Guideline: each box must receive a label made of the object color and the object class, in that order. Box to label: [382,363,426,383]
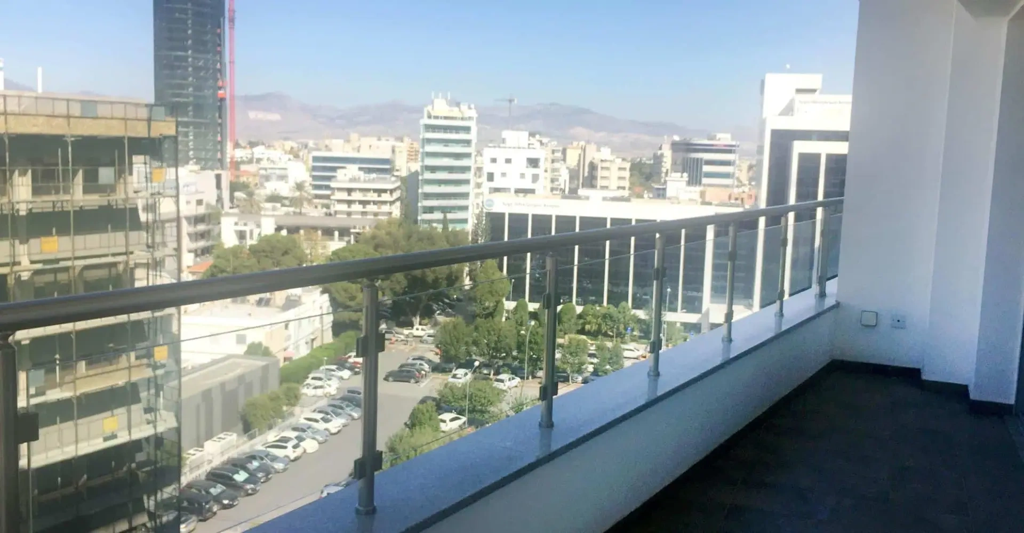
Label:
gray car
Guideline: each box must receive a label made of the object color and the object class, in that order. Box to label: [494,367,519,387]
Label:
white car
